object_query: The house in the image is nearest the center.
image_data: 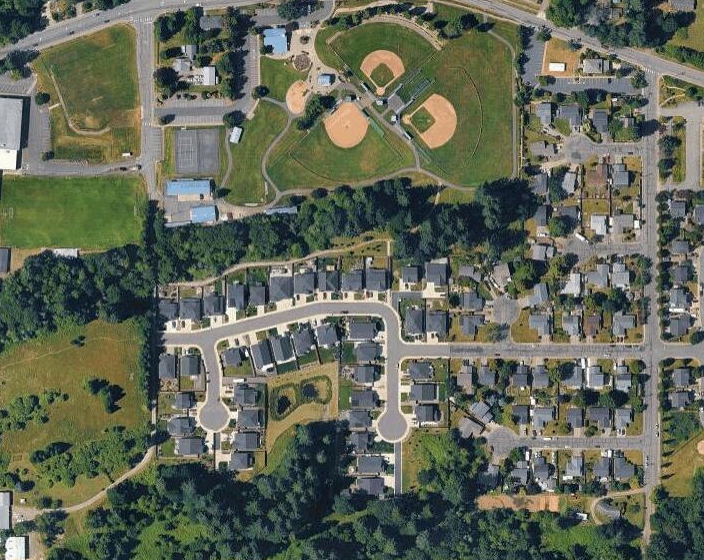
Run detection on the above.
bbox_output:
[343,270,362,290]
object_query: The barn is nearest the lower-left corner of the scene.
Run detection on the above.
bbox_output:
[5,537,25,560]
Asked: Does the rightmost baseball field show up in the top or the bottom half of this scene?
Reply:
top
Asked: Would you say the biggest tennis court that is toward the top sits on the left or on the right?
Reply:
left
